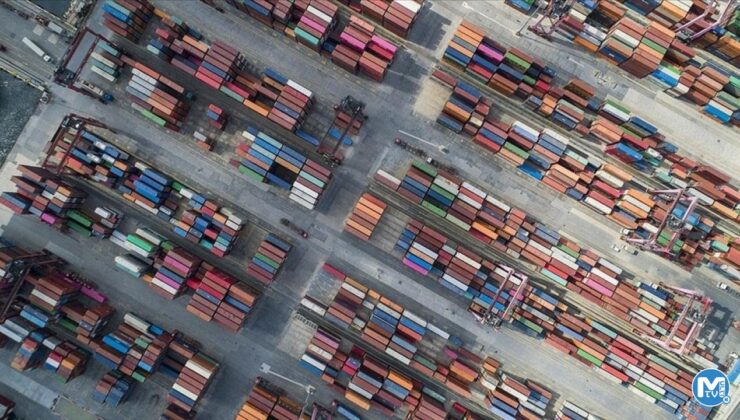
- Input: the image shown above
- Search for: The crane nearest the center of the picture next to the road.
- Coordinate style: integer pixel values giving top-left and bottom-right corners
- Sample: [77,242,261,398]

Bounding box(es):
[316,98,366,166]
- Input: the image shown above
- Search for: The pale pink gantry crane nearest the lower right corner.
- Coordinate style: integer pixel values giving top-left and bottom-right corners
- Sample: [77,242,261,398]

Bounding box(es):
[638,285,718,357]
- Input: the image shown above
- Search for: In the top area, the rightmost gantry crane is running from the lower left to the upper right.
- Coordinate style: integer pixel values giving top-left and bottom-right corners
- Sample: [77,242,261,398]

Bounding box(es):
[676,0,736,45]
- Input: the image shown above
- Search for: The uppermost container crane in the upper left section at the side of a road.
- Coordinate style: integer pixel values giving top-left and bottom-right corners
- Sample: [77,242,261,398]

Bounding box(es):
[50,23,127,100]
